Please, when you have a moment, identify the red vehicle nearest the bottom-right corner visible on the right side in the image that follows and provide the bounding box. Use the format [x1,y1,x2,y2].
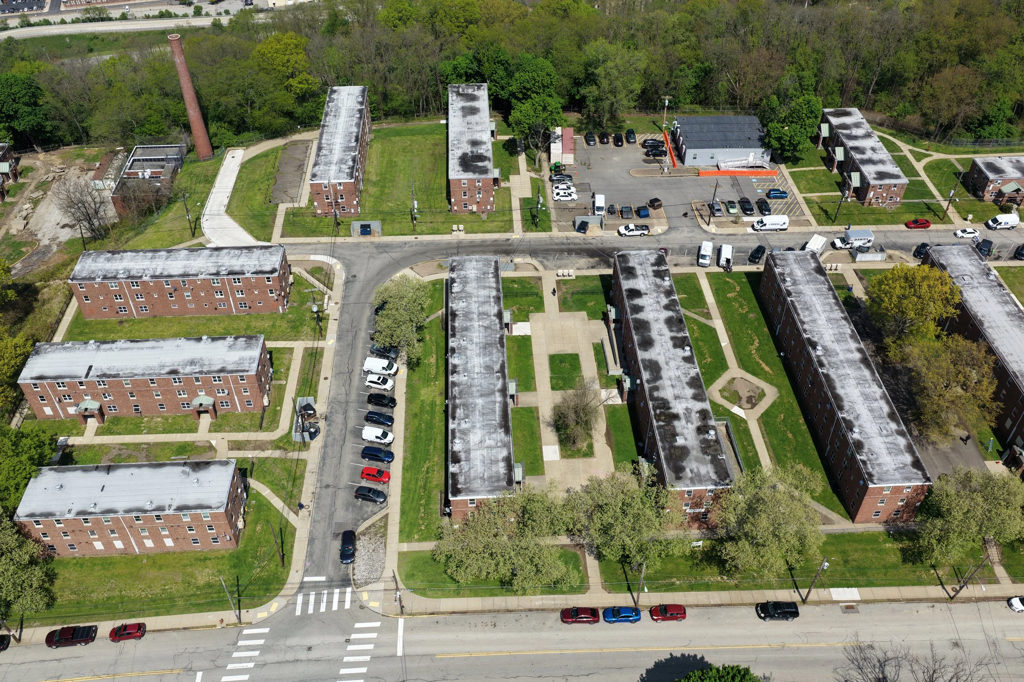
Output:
[649,604,687,624]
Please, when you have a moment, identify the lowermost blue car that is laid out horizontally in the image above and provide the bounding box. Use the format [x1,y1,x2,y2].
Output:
[602,606,642,625]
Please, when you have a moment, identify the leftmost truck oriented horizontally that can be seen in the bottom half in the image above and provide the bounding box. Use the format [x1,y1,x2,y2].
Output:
[45,625,99,649]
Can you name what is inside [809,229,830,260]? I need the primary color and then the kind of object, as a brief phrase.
white truck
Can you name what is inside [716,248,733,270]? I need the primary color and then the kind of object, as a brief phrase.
white vehicle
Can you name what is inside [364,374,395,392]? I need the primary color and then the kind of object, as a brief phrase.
white car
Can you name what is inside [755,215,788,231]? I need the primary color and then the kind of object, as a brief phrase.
white vehicle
